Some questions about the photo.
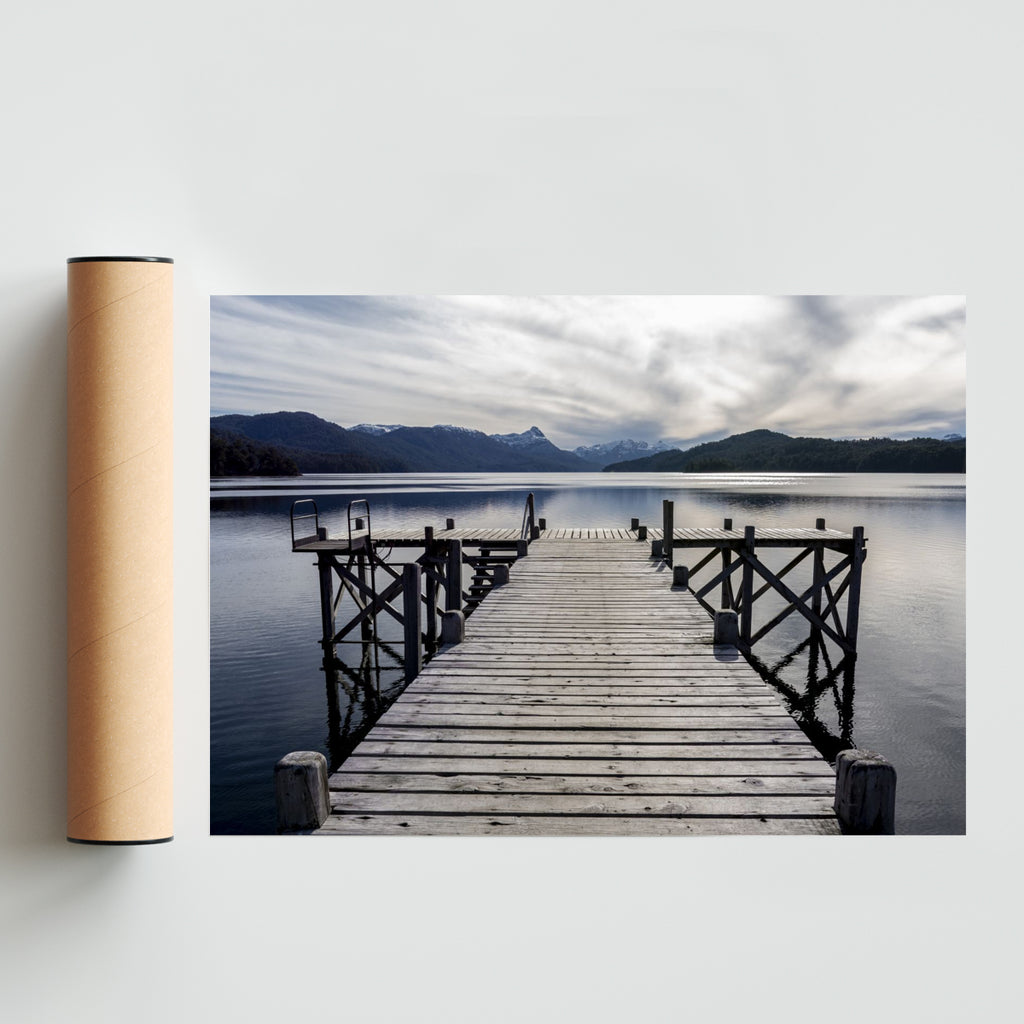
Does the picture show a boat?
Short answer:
No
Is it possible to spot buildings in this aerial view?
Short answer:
No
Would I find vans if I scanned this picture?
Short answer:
No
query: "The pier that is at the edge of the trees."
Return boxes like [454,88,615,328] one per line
[274,492,897,835]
